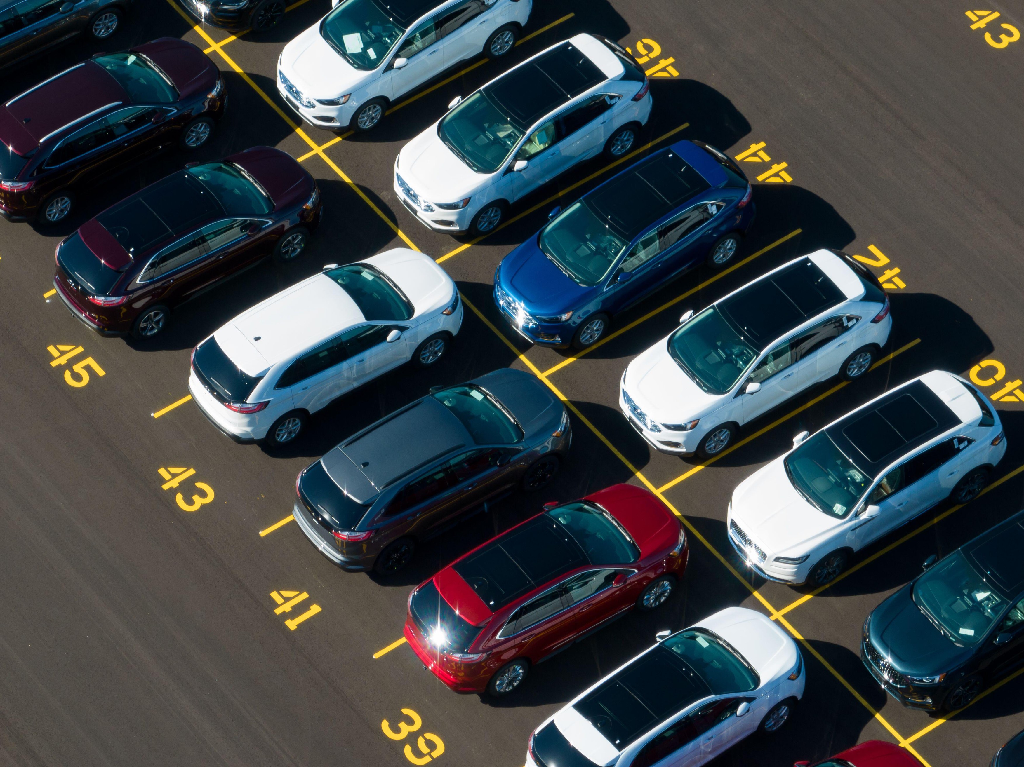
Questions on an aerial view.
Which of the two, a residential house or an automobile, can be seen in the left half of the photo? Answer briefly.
automobile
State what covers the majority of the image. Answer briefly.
paved ground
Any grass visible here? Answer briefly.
No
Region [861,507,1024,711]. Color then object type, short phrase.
black car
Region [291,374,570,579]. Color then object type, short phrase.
black car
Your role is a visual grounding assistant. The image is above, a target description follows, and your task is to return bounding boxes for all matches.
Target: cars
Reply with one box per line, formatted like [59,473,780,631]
[730,371,1008,587]
[394,35,657,237]
[517,612,808,767]
[494,141,760,348]
[278,0,537,133]
[291,374,570,579]
[51,152,323,342]
[188,0,304,32]
[861,507,1024,711]
[0,43,227,228]
[402,490,689,699]
[0,0,135,82]
[186,254,463,449]
[791,745,920,767]
[985,719,1024,767]
[621,250,896,459]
